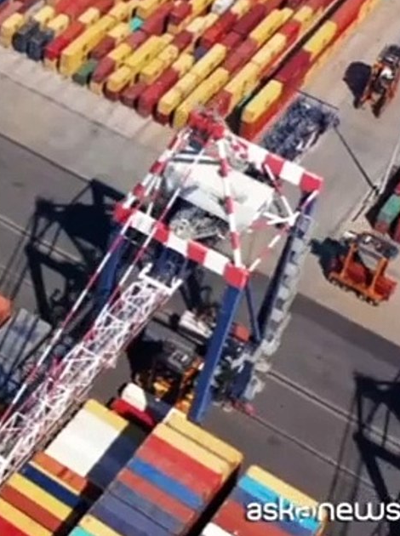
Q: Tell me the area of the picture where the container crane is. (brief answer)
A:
center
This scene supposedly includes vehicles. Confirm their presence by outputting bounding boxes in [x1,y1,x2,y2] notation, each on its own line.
[128,316,203,407]
[319,217,397,304]
[355,34,400,111]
